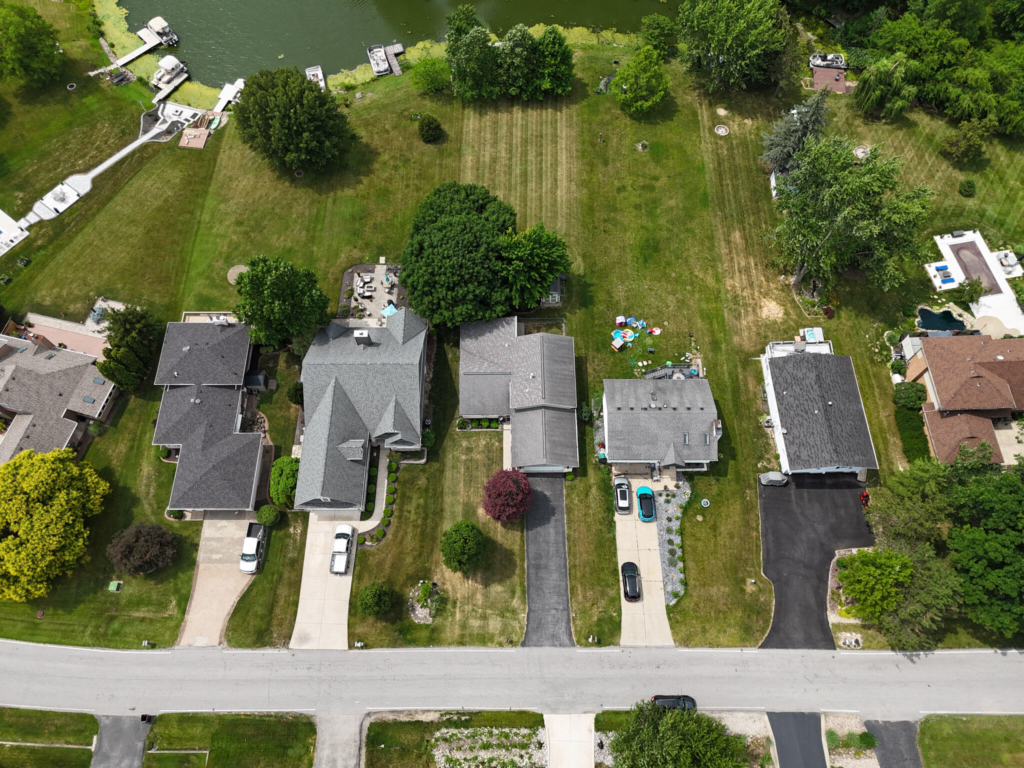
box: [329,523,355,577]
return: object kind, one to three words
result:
truck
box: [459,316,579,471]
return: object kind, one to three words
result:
house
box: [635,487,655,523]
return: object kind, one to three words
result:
car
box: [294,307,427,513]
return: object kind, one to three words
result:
house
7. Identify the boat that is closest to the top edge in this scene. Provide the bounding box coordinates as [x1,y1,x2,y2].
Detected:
[145,13,180,50]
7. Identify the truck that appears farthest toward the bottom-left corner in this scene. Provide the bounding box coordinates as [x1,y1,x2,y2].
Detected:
[240,521,267,575]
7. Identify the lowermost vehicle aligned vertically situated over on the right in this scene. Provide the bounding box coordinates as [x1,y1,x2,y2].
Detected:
[620,560,642,605]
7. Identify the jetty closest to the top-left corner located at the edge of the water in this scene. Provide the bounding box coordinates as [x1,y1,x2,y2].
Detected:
[115,27,163,69]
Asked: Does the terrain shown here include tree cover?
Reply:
Yes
